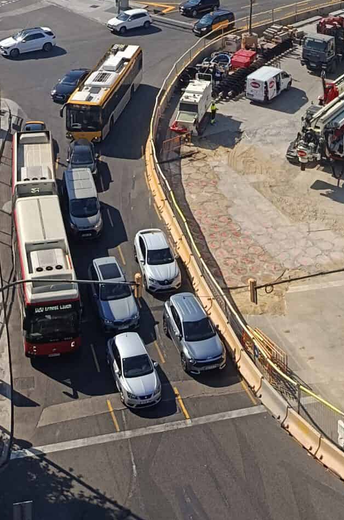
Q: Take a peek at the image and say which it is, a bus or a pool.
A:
bus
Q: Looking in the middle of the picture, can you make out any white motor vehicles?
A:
Yes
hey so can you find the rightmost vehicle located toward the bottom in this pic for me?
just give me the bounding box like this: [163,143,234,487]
[162,293,227,379]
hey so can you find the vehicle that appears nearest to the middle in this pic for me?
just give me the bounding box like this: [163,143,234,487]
[135,230,181,294]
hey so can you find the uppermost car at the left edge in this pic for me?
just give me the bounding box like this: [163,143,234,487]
[1,28,55,57]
